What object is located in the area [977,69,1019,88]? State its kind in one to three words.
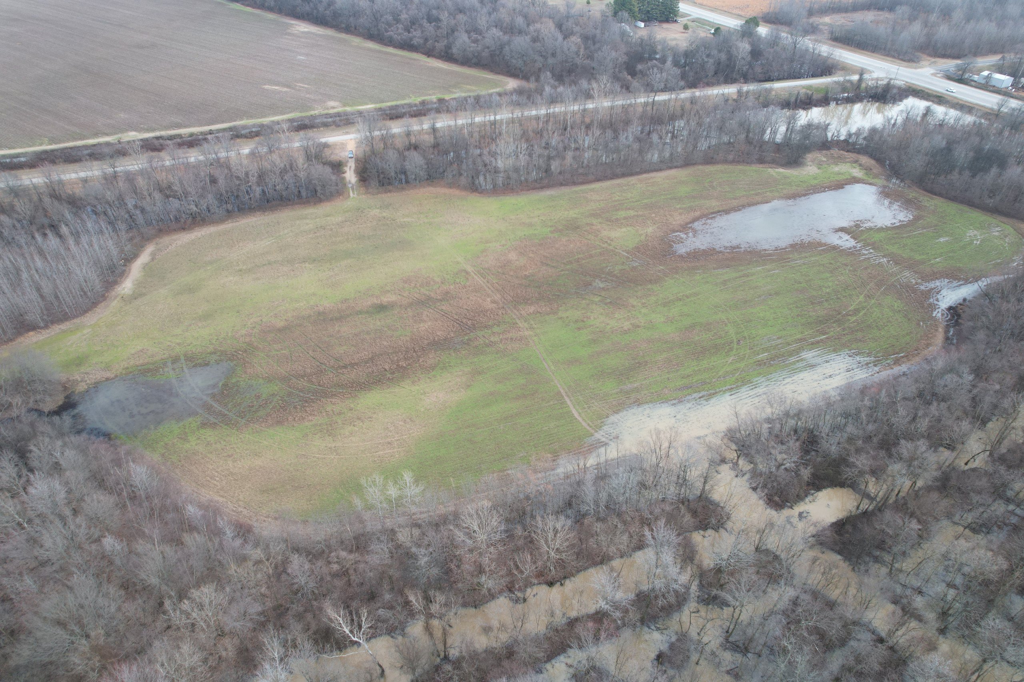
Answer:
building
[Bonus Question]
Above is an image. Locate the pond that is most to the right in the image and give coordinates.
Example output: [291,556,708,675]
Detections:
[757,95,1003,150]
